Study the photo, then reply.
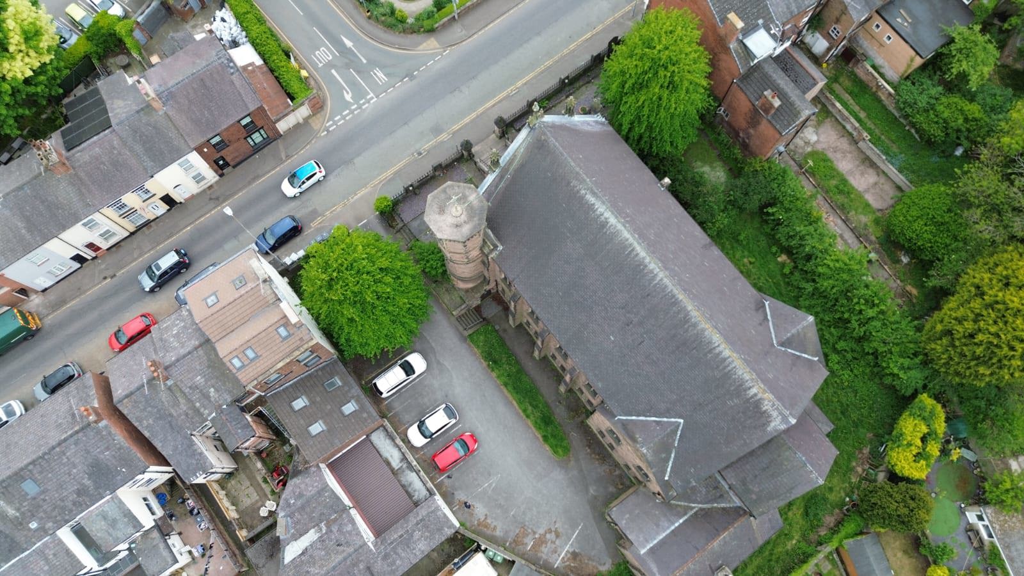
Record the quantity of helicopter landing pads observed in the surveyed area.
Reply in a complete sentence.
The photo contains no helicopter landing pads.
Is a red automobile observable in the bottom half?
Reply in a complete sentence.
Yes, a red automobile appears in the bottom half.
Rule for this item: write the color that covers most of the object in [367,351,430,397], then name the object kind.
white car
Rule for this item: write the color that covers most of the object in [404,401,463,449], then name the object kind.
white car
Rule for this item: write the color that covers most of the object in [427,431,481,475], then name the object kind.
red car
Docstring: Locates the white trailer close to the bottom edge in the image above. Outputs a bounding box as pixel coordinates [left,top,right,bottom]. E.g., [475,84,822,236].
[456,551,498,576]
